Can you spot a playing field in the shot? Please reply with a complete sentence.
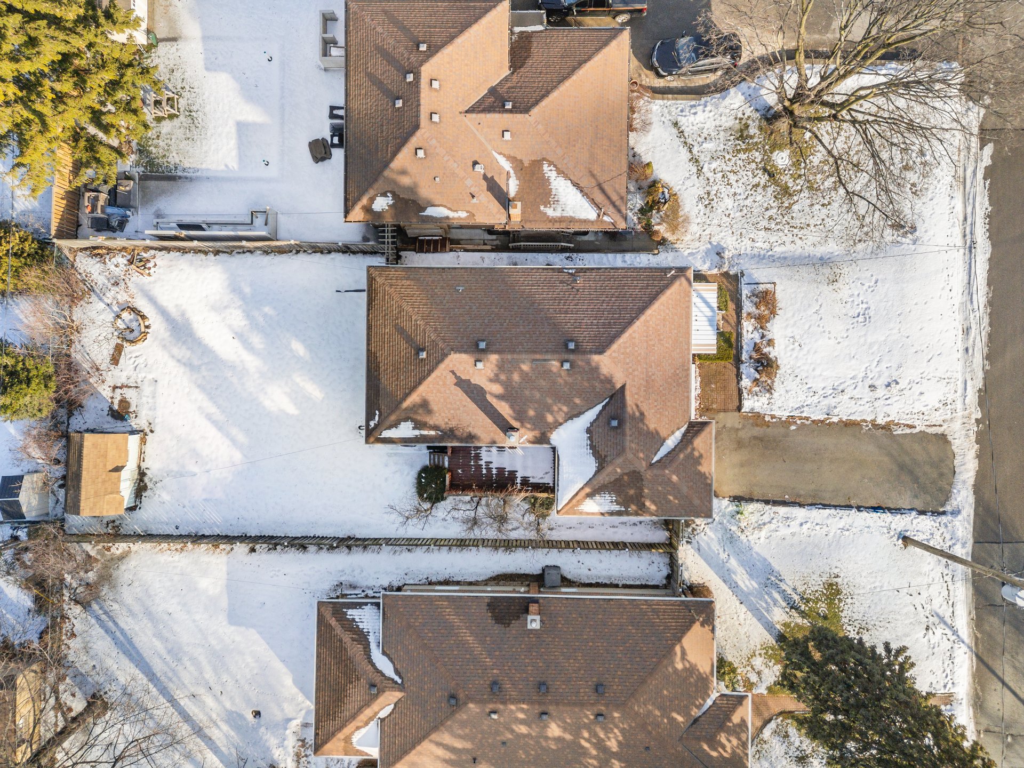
No, there is no playing field in the image.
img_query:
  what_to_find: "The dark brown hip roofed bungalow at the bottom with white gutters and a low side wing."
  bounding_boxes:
[312,576,752,768]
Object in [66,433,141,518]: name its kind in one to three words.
shed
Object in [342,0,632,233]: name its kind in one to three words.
house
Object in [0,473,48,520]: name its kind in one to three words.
shed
